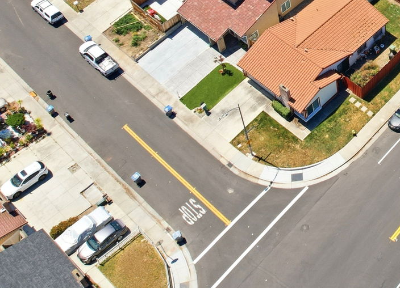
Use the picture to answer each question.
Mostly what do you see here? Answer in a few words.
paved ground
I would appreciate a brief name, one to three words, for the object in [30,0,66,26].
truck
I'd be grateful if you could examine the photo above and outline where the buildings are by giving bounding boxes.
[0,228,93,288]
[239,0,389,121]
